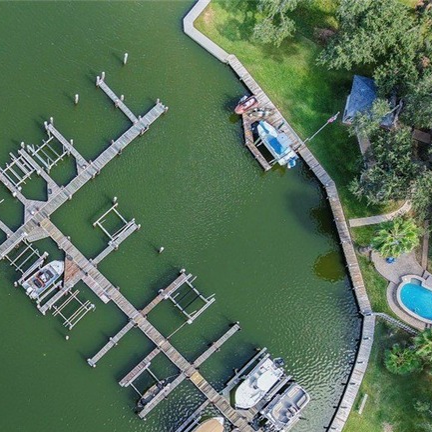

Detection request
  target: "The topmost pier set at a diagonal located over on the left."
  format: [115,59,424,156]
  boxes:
[95,71,140,124]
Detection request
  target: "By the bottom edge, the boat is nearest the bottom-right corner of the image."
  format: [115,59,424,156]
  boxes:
[257,385,309,431]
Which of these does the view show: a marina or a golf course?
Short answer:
marina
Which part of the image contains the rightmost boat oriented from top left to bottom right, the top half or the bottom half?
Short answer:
top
